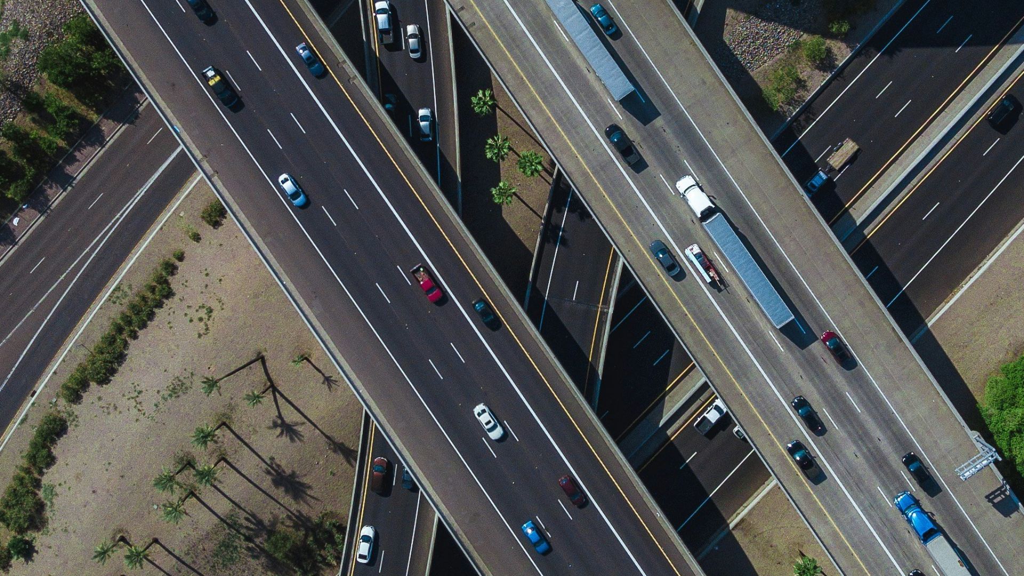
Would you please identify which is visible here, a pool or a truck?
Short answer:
truck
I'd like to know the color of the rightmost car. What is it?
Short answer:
black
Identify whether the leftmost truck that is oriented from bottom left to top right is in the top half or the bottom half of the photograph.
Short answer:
bottom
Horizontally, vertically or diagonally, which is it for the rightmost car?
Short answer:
diagonally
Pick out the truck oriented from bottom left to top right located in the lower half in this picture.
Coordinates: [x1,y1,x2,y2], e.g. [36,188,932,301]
[691,399,726,436]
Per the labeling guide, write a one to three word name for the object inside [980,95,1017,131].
car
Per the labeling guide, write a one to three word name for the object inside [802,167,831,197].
truck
